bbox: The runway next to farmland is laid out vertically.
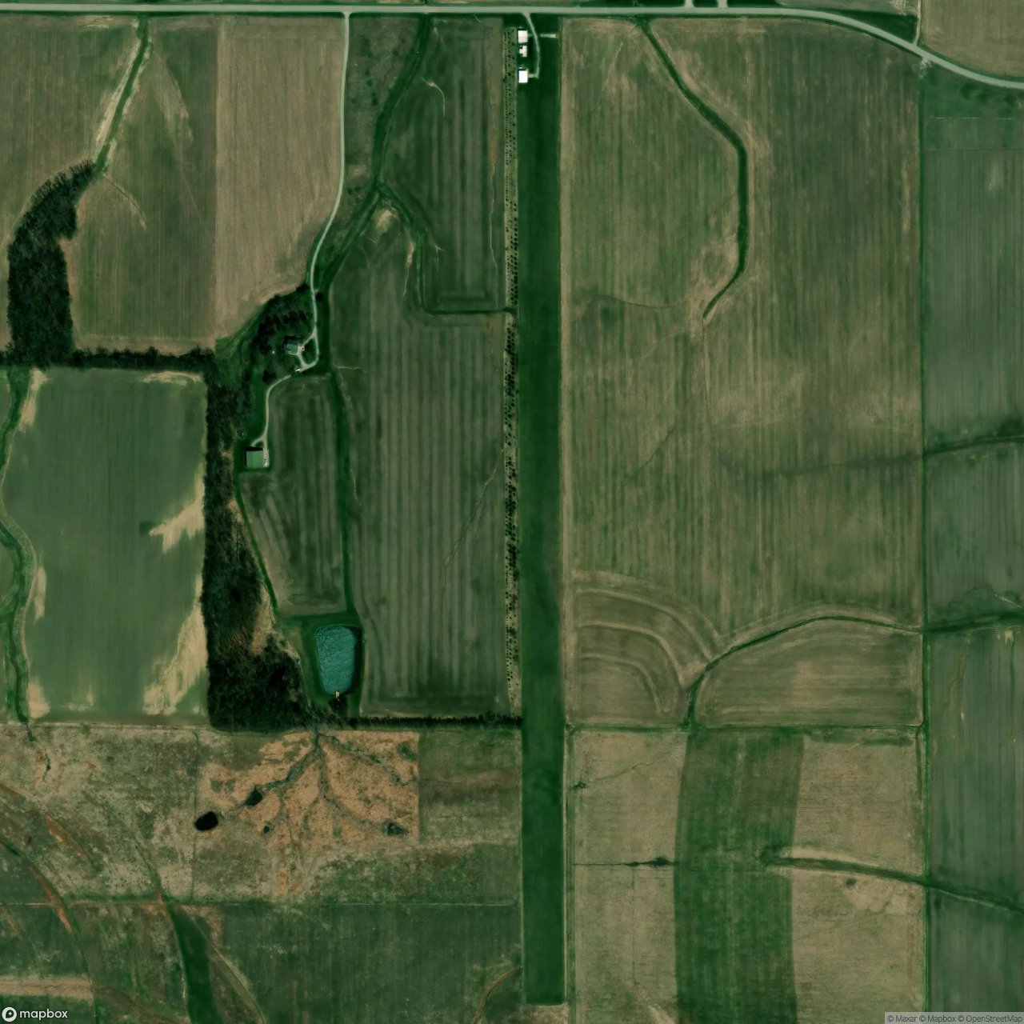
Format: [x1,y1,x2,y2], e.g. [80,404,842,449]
[517,17,565,1004]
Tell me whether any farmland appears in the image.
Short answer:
Yes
